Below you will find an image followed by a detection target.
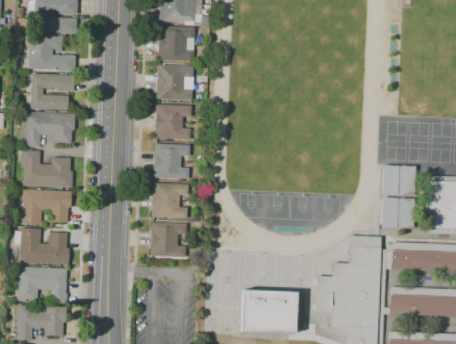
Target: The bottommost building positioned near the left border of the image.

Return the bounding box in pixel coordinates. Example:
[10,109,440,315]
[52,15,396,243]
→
[18,306,67,340]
